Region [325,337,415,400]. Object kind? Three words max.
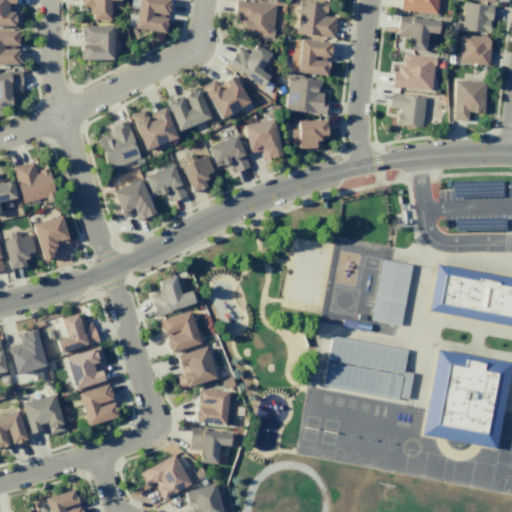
building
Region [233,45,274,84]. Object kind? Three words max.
house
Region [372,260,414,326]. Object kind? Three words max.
building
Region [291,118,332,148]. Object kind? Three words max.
house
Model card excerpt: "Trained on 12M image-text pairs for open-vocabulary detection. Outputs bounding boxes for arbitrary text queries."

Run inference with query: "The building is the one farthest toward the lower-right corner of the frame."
[424,350,512,448]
